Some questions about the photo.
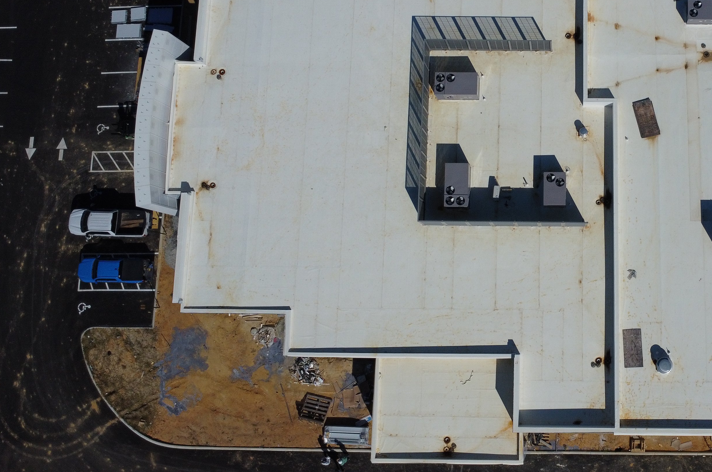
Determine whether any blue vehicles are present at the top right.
No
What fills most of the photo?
buildings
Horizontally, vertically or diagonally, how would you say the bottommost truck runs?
horizontally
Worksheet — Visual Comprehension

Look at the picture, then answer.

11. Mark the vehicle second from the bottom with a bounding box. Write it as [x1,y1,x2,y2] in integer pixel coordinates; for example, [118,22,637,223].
[68,206,156,241]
